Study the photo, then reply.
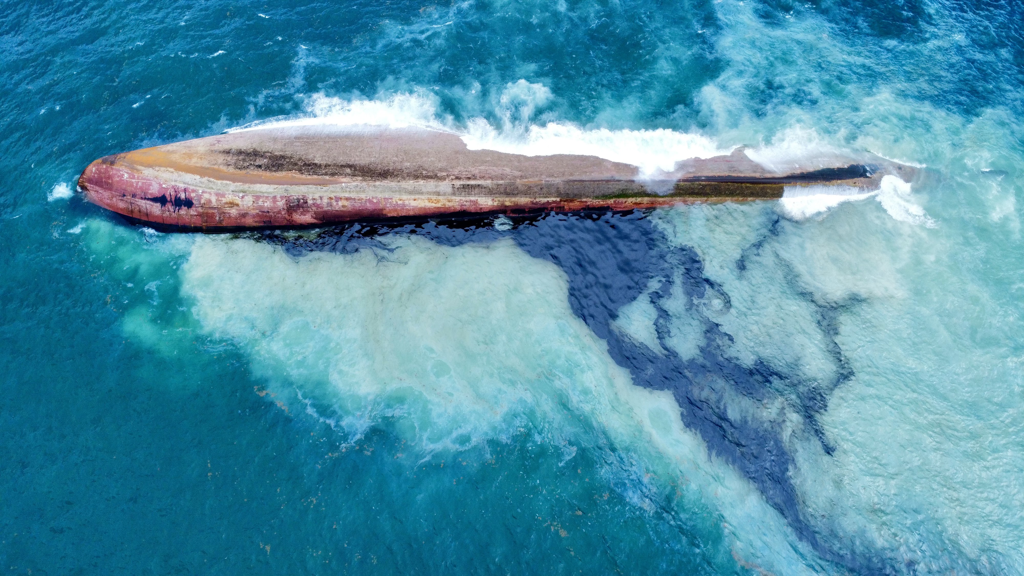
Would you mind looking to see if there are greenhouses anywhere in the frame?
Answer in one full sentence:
No, the picture doesn't show any greenhouse.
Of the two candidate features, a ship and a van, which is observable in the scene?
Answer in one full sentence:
Of the two, only a ship appears.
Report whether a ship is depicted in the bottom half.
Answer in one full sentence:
No, no ship can be made out in the bottom half.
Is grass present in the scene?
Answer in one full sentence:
No, no grass is visible.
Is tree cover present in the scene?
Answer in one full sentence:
No, the scene doesn't show any tree cover.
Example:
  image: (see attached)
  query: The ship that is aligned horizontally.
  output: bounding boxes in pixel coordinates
[78,127,898,232]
